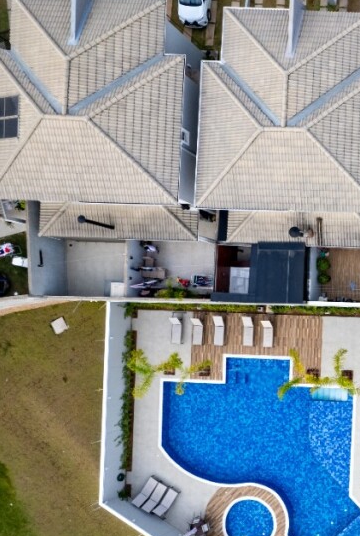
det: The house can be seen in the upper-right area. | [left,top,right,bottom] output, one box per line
[193,0,360,251]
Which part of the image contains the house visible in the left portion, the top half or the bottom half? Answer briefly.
top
